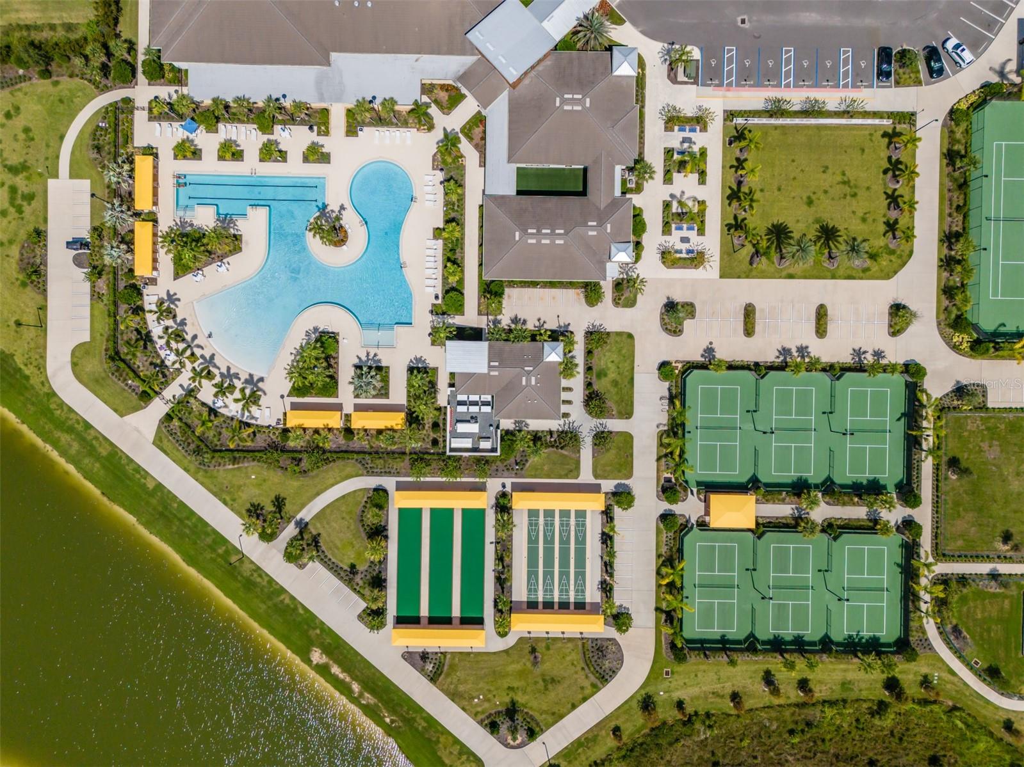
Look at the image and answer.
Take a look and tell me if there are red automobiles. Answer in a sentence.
No, there is no red automobile in the image.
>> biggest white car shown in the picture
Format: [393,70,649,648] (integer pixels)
[946,38,974,69]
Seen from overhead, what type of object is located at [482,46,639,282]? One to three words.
building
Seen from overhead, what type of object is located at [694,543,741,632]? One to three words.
sports court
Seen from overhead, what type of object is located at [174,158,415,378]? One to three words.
swimming pool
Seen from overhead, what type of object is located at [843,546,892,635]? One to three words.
sports court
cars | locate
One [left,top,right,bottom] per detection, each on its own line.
[925,44,947,77]
[879,45,897,80]
[946,38,974,69]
